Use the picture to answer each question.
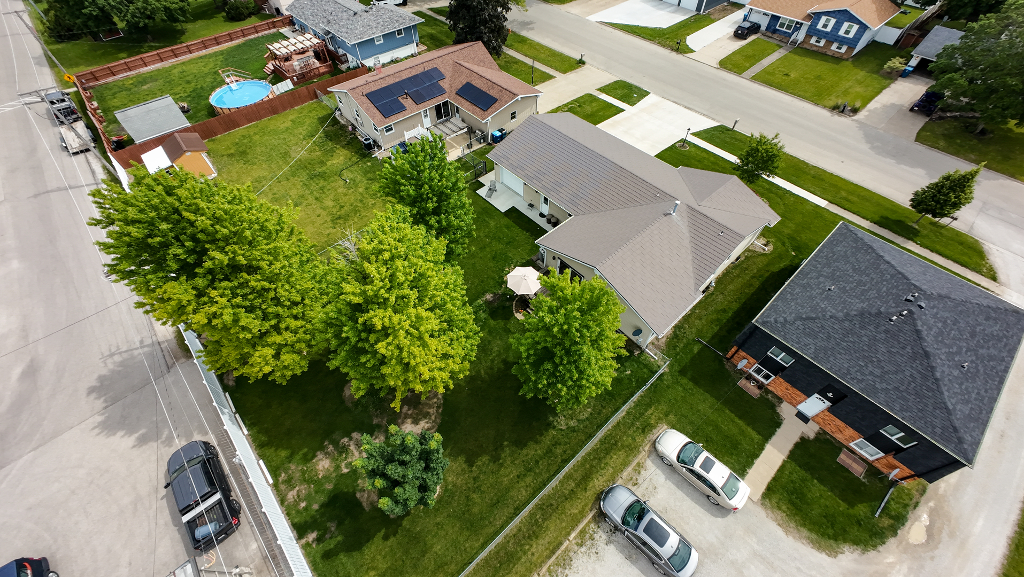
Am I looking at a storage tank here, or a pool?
pool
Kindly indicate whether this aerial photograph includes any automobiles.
Yes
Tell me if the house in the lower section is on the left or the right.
right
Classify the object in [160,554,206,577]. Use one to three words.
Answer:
trailer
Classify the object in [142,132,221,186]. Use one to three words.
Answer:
shed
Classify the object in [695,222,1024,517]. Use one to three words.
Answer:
house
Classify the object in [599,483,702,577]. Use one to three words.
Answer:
car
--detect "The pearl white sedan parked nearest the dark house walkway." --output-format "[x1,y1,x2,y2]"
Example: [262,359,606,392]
[654,426,750,514]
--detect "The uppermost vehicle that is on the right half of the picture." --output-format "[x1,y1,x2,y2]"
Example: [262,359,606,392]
[733,16,761,36]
